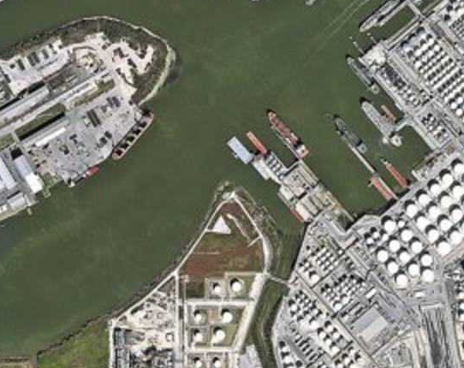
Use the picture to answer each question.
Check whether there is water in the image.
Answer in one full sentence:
Yes, there's water in this view.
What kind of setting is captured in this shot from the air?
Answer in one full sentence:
The area seen from above is an industrial area.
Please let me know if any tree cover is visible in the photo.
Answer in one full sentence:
No, no tree cover is visible.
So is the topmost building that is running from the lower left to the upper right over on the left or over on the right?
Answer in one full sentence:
The topmost building that is running from the lower left to the upper right appears in the left half of the scene.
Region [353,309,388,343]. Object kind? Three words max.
building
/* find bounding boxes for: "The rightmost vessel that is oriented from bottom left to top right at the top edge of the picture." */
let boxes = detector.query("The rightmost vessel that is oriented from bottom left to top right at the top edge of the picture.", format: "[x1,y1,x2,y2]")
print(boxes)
[361,0,401,30]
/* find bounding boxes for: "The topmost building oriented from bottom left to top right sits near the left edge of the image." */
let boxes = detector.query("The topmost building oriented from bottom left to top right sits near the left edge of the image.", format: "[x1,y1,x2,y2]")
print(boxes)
[0,82,53,120]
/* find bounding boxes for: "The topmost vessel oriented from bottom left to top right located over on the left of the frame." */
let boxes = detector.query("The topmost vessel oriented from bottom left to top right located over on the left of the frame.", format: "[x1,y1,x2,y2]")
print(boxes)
[112,112,154,158]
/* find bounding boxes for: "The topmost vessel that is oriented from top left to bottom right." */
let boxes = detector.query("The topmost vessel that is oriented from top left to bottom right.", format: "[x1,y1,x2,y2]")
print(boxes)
[349,57,374,86]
